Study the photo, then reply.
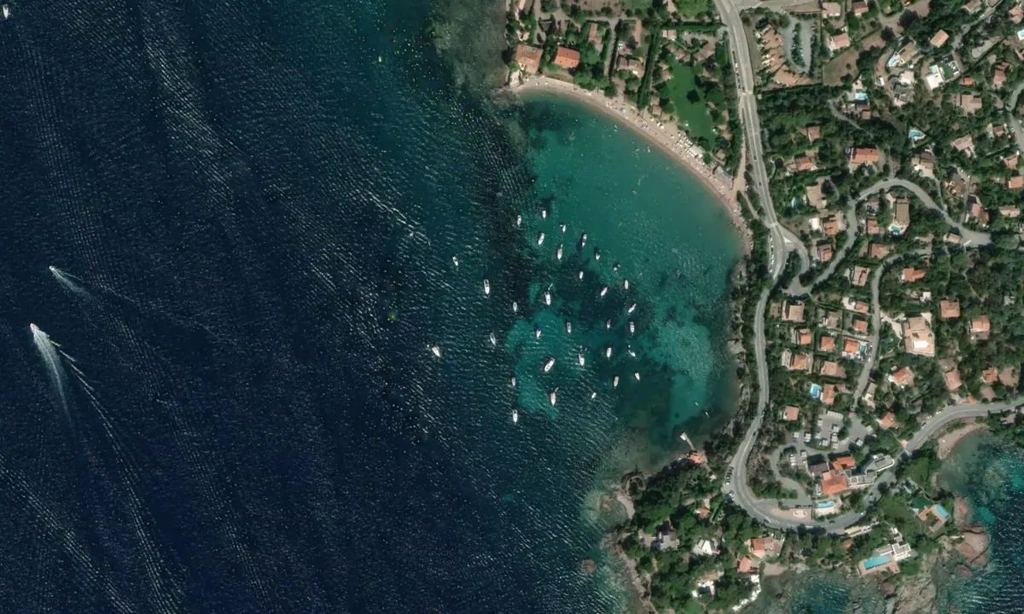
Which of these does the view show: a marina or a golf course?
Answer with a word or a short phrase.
marina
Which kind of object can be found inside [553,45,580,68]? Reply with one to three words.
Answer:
house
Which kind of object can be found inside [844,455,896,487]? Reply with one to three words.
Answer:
building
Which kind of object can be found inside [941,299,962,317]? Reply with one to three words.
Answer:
house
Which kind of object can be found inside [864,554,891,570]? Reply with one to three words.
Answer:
swimming pool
